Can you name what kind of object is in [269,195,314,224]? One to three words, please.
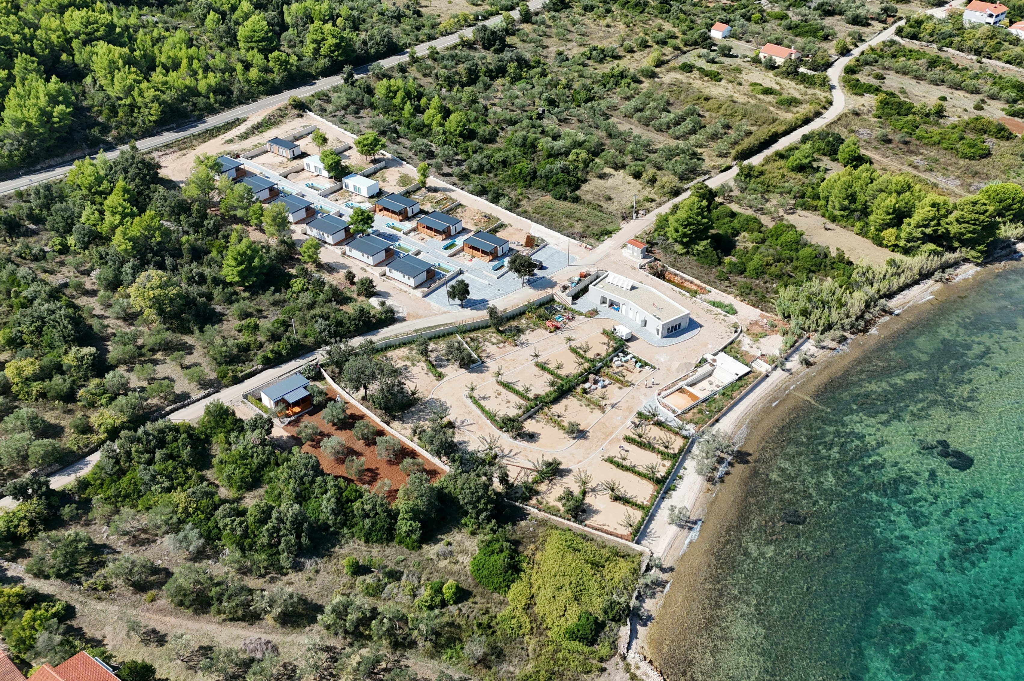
building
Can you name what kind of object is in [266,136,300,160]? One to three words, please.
building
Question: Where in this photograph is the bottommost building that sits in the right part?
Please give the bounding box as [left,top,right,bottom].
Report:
[589,271,690,339]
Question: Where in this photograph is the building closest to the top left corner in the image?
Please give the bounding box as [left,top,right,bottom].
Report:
[209,156,245,181]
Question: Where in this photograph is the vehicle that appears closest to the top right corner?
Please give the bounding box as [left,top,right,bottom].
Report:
[609,319,633,339]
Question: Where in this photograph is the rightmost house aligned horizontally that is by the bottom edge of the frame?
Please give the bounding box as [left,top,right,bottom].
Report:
[59,649,128,681]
